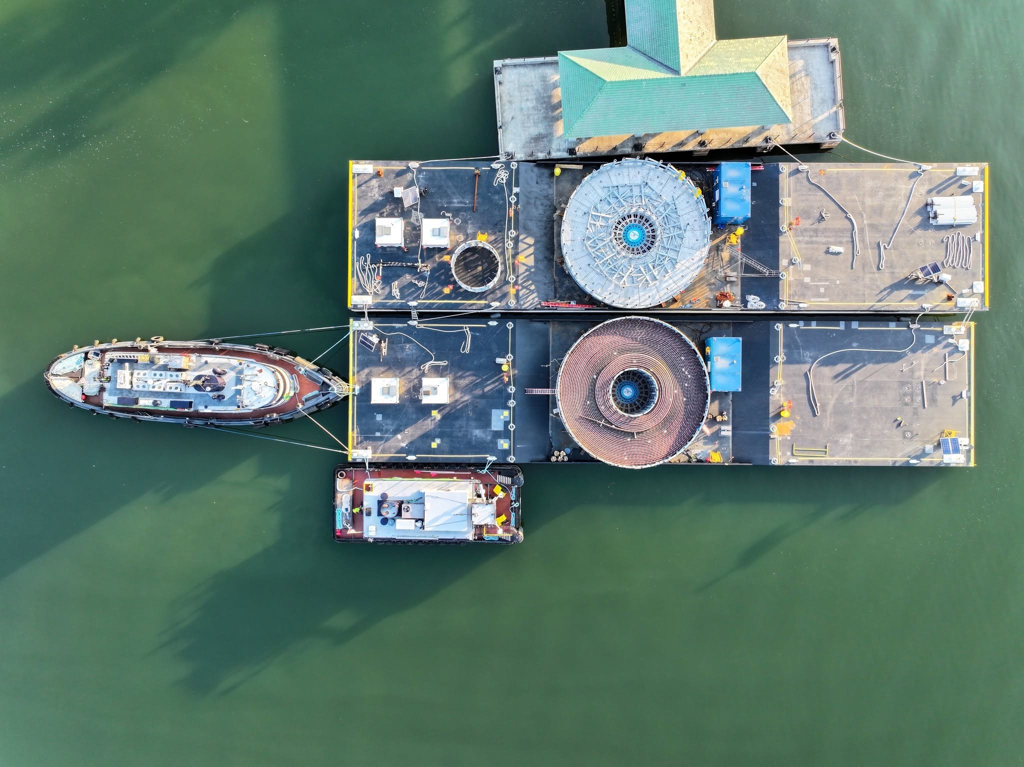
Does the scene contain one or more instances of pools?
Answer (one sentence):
No, there isn't any pool down there.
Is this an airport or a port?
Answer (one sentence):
The area seen from above is a port.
